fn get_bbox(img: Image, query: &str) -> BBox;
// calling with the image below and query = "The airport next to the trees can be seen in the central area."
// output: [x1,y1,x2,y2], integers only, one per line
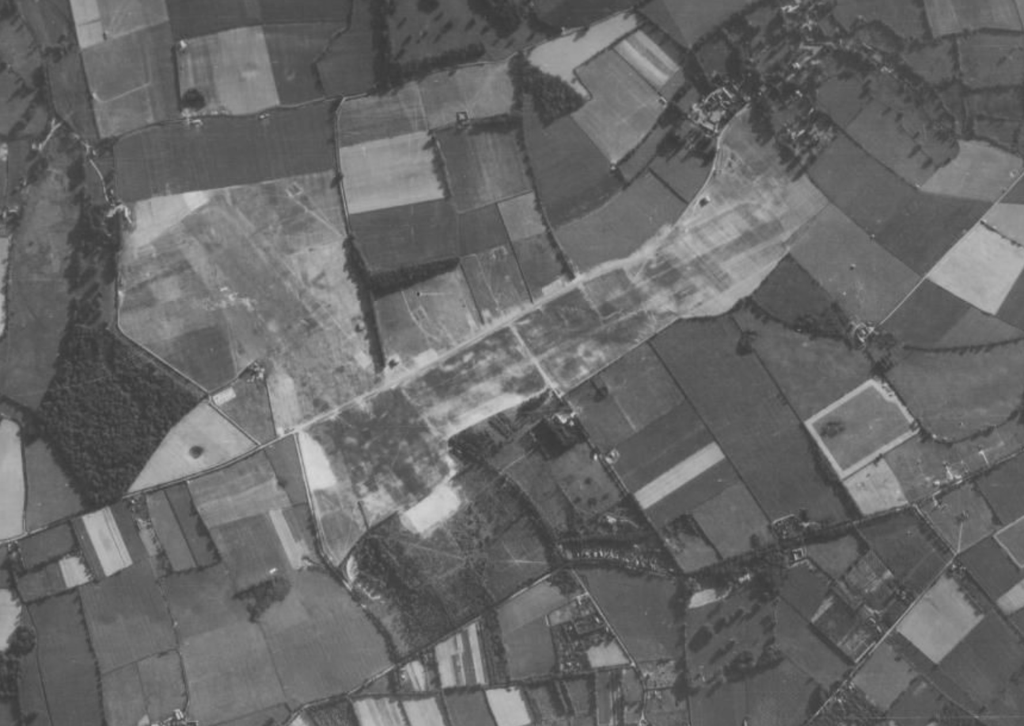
[117,107,830,567]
